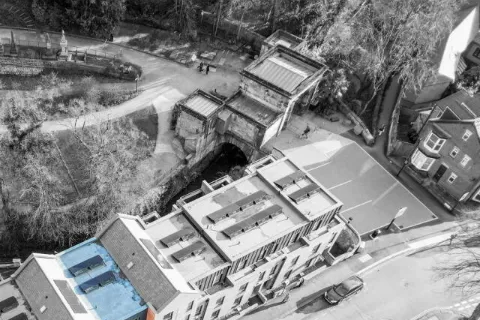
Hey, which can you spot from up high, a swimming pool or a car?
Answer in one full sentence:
The image shows a car.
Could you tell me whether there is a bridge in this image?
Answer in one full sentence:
Yes, you can see a bridge in this photo.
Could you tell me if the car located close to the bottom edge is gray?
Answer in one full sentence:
Yes, the car located close to the bottom edge is gray.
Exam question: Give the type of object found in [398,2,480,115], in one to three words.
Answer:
house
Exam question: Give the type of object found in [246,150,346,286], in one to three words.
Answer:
building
